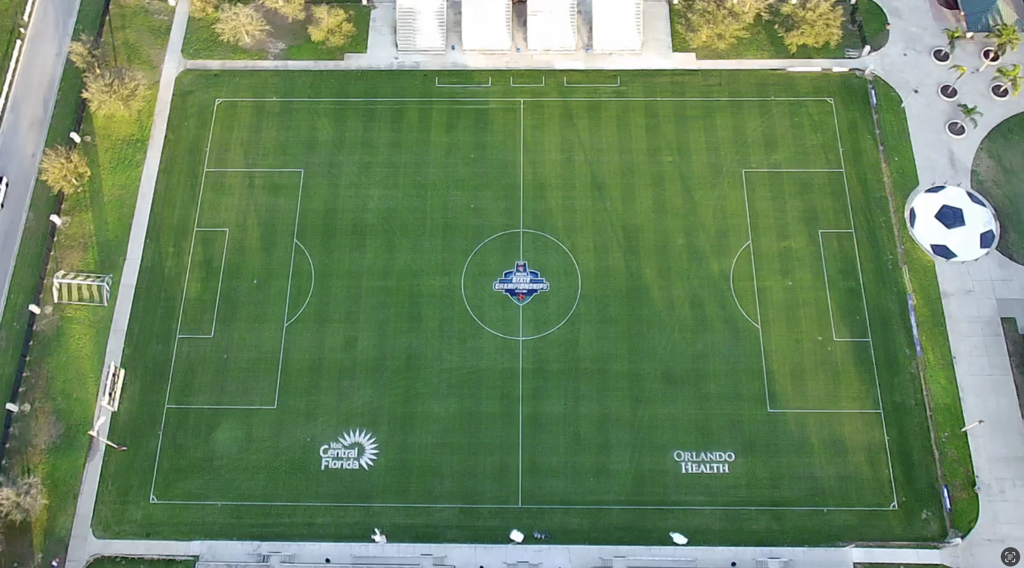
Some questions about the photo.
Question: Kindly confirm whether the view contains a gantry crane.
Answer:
No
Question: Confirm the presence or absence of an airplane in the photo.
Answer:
No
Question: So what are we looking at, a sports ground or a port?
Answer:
sports ground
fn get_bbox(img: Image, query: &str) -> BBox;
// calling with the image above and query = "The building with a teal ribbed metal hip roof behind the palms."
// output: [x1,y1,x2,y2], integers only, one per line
[958,0,1013,40]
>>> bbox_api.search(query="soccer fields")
[91,70,946,548]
